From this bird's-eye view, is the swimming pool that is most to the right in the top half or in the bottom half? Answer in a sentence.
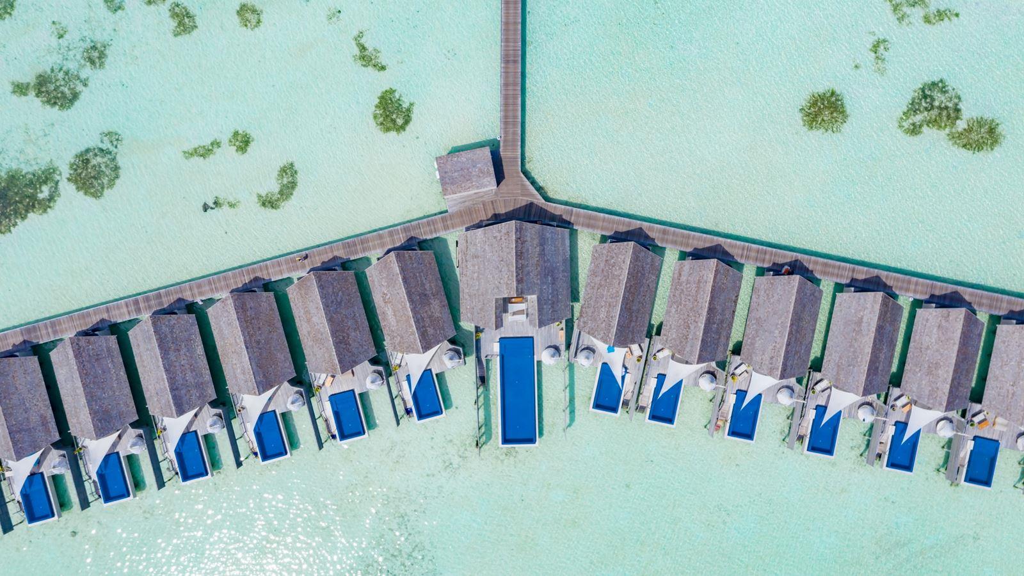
It is in the bottom half that the swimming pool that is most to the right appears.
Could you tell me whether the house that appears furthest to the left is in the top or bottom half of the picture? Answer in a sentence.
The bottom half of the photo is where the house that appears furthest to the left is.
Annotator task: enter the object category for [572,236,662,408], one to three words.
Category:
house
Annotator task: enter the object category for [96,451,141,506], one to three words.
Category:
swimming pool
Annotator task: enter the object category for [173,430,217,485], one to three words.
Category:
swimming pool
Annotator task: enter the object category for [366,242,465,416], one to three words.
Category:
house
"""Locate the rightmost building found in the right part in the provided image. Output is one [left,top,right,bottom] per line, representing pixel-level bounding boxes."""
[957,316,1024,468]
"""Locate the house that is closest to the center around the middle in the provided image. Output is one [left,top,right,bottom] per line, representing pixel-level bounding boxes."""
[457,220,571,381]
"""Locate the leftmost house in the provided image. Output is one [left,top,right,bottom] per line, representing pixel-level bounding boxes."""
[0,344,82,515]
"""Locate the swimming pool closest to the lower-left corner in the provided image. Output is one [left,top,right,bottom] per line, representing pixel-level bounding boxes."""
[17,471,64,526]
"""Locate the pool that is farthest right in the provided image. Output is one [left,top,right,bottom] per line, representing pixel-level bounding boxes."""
[955,436,999,490]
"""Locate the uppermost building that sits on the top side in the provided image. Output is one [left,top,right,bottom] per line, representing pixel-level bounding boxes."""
[433,146,497,199]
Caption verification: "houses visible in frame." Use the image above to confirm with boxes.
[876,300,984,461]
[128,303,229,477]
[457,220,571,381]
[0,344,82,515]
[572,236,662,408]
[637,254,743,412]
[207,282,308,456]
[51,324,158,497]
[796,285,904,446]
[366,242,465,416]
[716,269,823,429]
[287,262,386,436]
[957,316,1024,468]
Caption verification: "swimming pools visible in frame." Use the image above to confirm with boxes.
[877,420,920,474]
[96,451,141,506]
[591,362,634,416]
[721,389,763,443]
[326,389,372,444]
[800,405,842,459]
[17,471,64,526]
[955,436,999,490]
[247,409,294,464]
[494,336,538,447]
[644,374,684,428]
[403,369,448,424]
[173,430,217,485]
